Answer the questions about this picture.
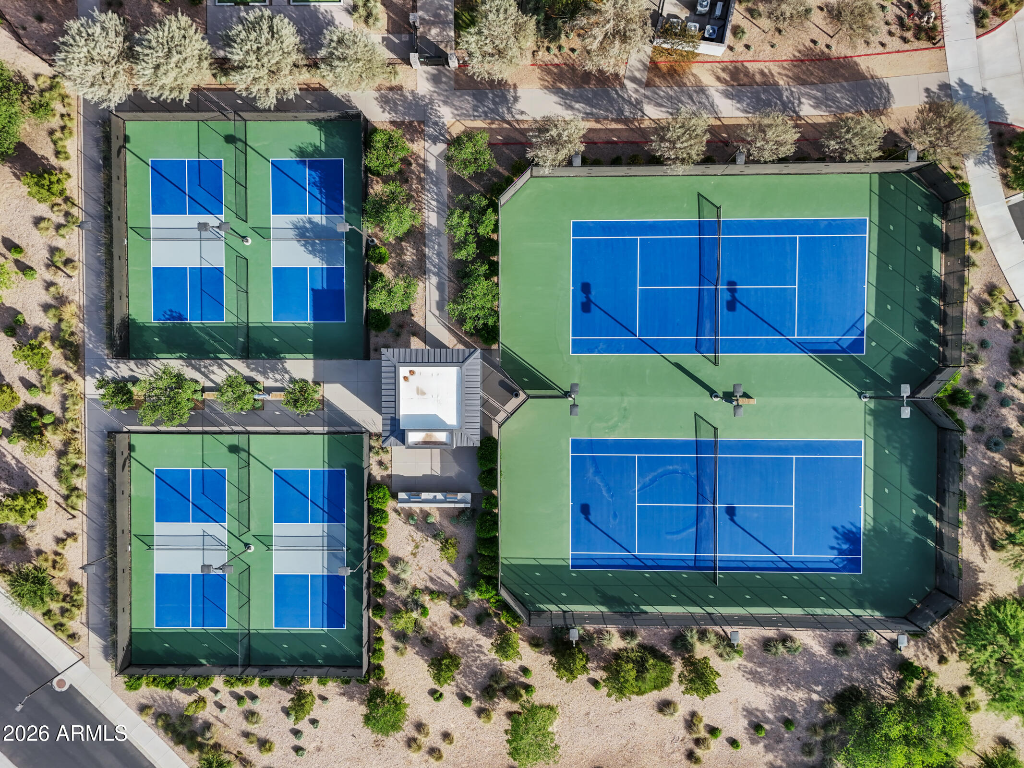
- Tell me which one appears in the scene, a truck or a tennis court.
tennis court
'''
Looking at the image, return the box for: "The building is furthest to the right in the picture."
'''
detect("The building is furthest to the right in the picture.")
[380,348,481,449]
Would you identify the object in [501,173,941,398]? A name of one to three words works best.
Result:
tennis court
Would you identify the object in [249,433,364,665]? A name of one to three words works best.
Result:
sports court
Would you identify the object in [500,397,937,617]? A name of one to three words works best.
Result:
tennis court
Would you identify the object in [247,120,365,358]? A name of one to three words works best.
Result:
sports court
